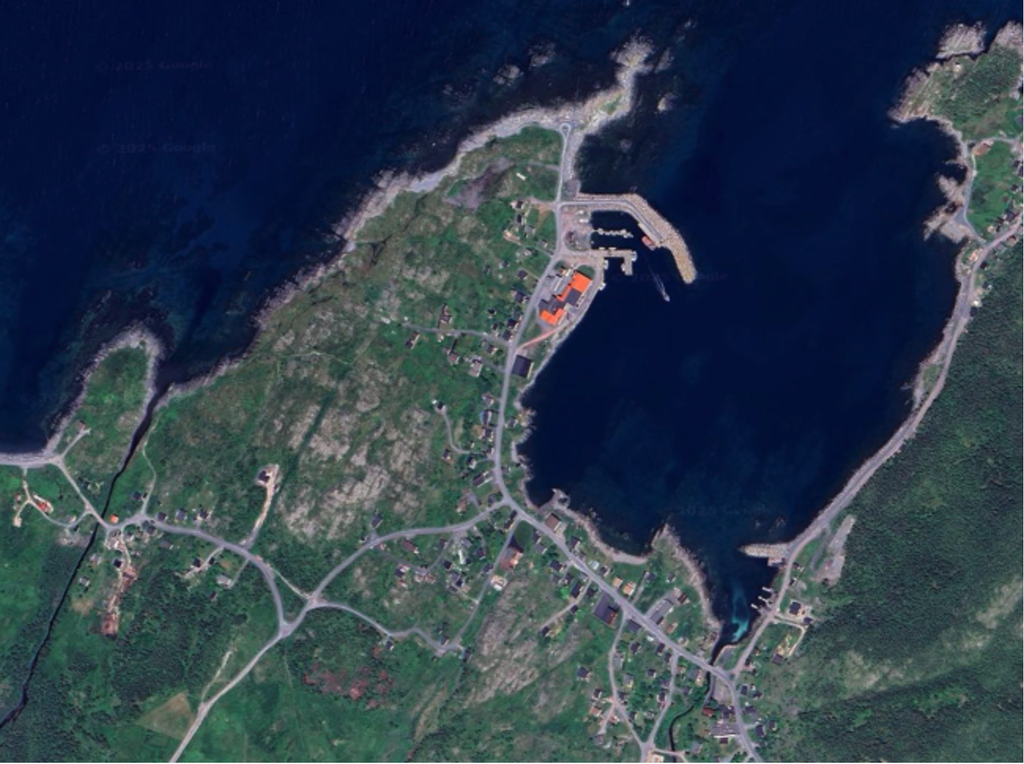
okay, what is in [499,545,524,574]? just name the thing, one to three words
building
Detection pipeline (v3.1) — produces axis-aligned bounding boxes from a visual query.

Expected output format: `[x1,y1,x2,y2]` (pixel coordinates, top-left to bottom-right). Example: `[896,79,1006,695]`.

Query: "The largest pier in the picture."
[588,249,634,276]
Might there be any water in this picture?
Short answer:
Yes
